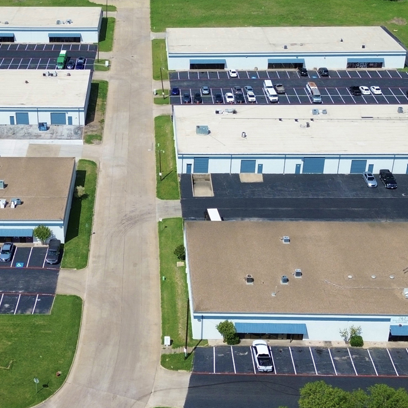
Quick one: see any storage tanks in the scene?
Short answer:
No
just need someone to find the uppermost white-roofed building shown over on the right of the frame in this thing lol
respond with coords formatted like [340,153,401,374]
[166,27,407,68]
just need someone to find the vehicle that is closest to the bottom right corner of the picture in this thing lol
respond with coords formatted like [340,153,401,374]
[252,341,273,374]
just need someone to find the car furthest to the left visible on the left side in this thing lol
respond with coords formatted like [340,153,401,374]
[0,244,14,263]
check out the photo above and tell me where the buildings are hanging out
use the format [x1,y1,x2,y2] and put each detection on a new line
[0,5,101,41]
[166,27,407,68]
[184,221,408,341]
[172,104,408,174]
[0,69,90,125]
[0,156,75,244]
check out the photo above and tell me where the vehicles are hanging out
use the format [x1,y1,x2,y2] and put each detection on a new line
[297,68,309,78]
[348,85,362,96]
[319,67,328,76]
[201,86,209,95]
[362,174,377,187]
[194,94,202,103]
[56,46,67,66]
[67,61,74,69]
[369,87,381,96]
[379,170,397,187]
[229,70,237,78]
[252,341,273,374]
[45,240,60,263]
[247,90,256,102]
[263,80,275,90]
[78,57,85,65]
[275,84,285,95]
[266,87,278,101]
[75,62,83,69]
[244,86,253,95]
[206,210,222,221]
[235,92,244,103]
[225,94,234,103]
[214,95,223,103]
[310,87,323,101]
[360,87,370,96]
[0,244,14,263]
[183,94,192,103]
